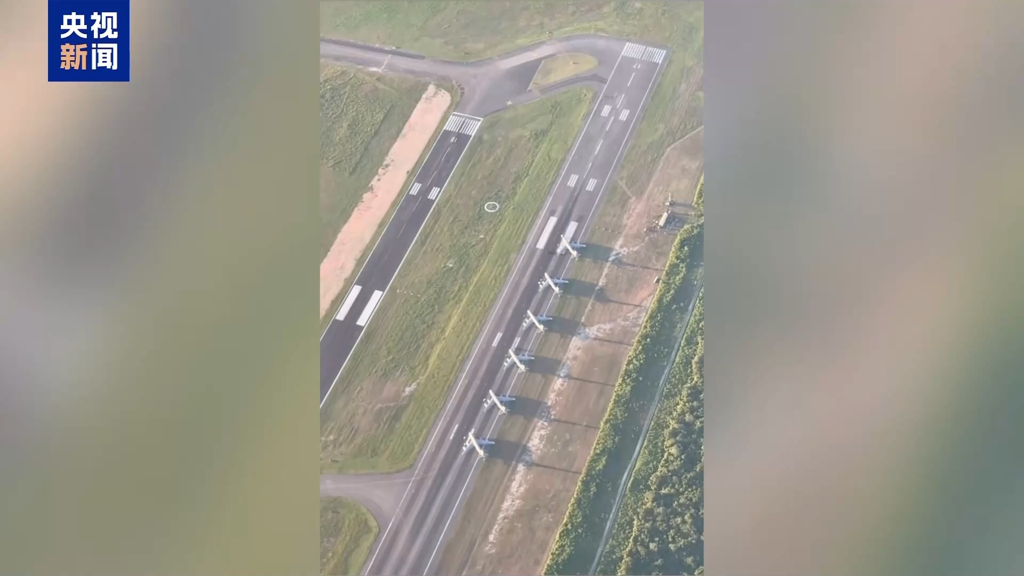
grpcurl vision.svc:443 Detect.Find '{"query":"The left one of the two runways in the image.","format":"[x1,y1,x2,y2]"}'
[182,112,483,576]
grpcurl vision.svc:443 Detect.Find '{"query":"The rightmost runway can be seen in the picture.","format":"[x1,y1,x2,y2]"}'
[360,36,674,576]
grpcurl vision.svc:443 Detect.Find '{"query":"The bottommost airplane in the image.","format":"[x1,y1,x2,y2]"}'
[463,433,494,459]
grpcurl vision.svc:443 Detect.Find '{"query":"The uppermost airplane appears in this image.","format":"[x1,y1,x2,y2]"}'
[558,238,585,258]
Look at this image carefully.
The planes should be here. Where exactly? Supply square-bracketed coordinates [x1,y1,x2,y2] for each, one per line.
[463,433,494,459]
[558,238,585,258]
[484,390,515,415]
[504,350,534,372]
[523,311,552,333]
[540,274,569,295]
